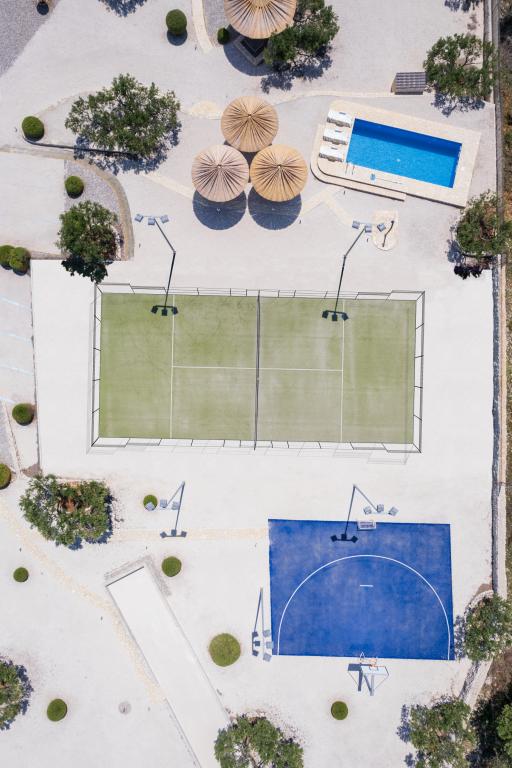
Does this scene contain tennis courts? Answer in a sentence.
Yes, there's a tennis court down there.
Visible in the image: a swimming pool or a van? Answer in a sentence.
Visible in the photo is a swimming pool.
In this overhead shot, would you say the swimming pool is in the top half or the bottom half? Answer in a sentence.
The swimming pool is in the top half of the image.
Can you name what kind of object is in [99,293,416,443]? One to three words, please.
tennis court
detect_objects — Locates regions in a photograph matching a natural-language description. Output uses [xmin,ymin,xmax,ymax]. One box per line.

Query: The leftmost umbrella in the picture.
[192,144,249,203]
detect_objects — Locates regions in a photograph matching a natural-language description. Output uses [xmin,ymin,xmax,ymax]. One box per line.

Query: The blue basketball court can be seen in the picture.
[269,519,453,660]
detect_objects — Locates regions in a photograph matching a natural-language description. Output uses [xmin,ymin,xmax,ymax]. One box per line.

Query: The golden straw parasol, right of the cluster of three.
[250,146,308,205]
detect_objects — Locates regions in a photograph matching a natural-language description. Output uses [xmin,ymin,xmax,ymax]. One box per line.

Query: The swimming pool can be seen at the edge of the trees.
[310,101,480,208]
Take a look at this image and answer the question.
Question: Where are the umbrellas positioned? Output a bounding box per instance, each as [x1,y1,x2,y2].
[250,146,308,205]
[192,144,249,203]
[223,0,298,43]
[221,96,278,154]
